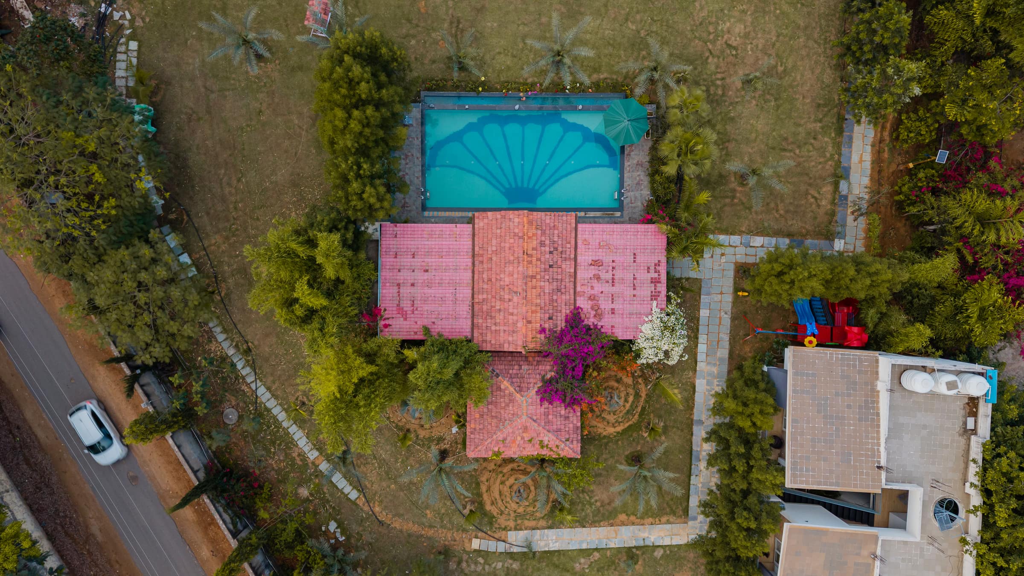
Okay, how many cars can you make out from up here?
1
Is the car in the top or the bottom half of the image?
bottom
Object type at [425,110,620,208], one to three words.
swimming pool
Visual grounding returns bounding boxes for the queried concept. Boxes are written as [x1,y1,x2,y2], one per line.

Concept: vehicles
[62,399,128,469]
